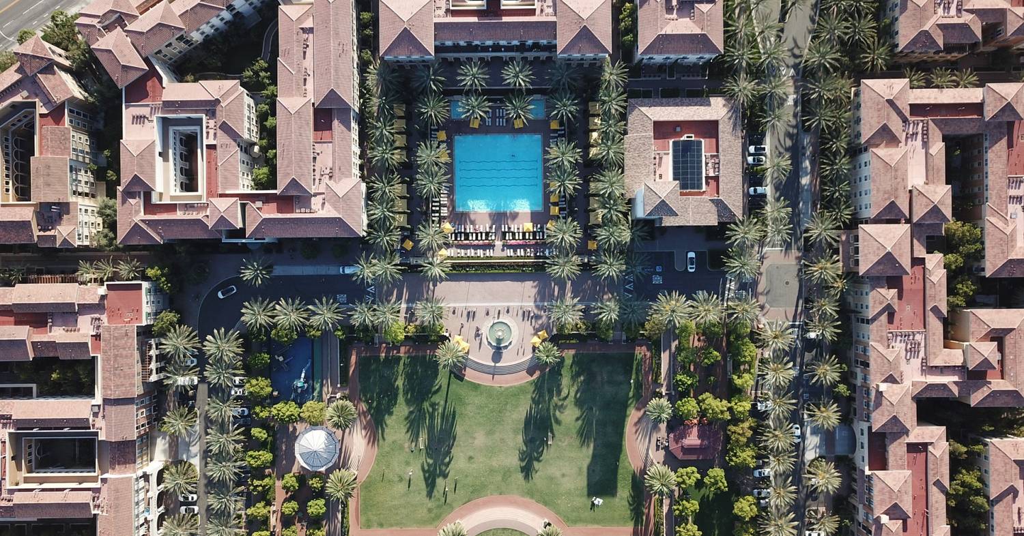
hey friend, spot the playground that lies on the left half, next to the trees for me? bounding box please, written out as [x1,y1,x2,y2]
[270,331,313,401]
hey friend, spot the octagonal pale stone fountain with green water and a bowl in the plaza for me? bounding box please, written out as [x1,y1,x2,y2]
[487,321,513,348]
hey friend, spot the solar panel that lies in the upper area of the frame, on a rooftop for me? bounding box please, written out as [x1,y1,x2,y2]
[673,140,703,190]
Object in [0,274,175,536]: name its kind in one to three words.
building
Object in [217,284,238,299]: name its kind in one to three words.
car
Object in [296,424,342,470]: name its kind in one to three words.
gazebo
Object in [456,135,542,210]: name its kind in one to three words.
swimming pool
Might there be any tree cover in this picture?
Yes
